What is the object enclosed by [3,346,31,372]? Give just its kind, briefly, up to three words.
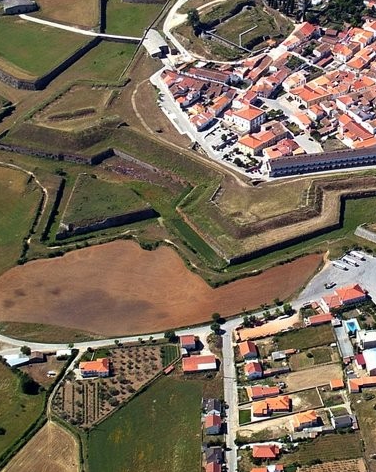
barn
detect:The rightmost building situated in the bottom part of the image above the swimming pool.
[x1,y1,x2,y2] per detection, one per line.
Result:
[323,285,366,314]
